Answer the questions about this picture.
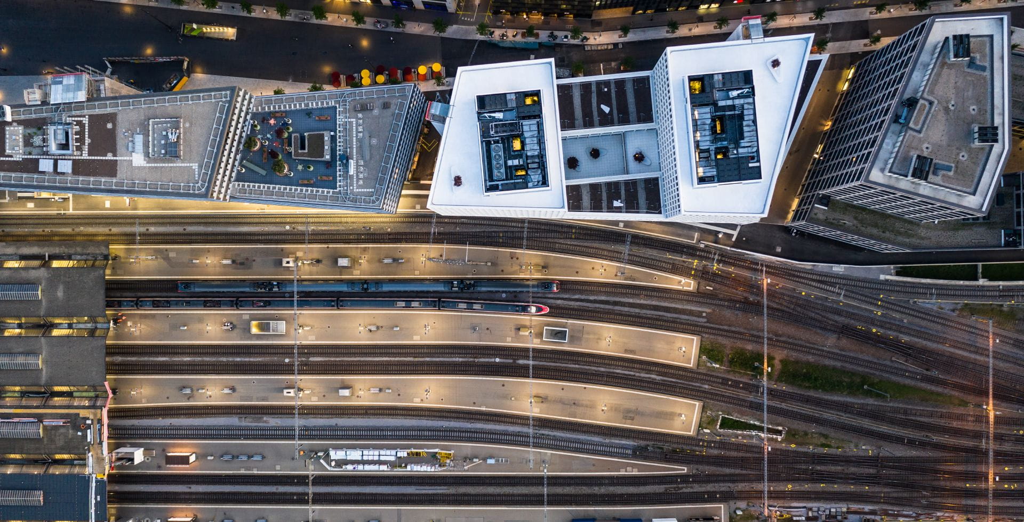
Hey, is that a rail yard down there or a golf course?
rail yard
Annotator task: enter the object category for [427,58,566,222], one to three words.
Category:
building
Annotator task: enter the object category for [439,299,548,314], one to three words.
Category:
rail car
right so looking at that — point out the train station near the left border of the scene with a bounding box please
[0,242,110,522]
